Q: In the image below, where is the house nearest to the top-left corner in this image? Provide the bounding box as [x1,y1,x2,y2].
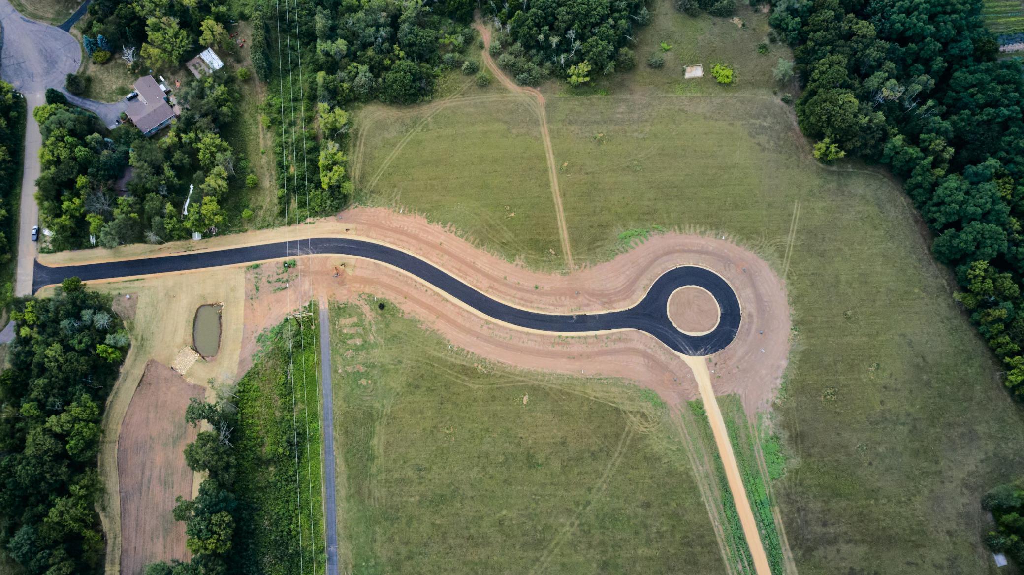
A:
[128,76,175,135]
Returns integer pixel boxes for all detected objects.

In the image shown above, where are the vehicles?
[31,227,40,240]
[125,91,139,100]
